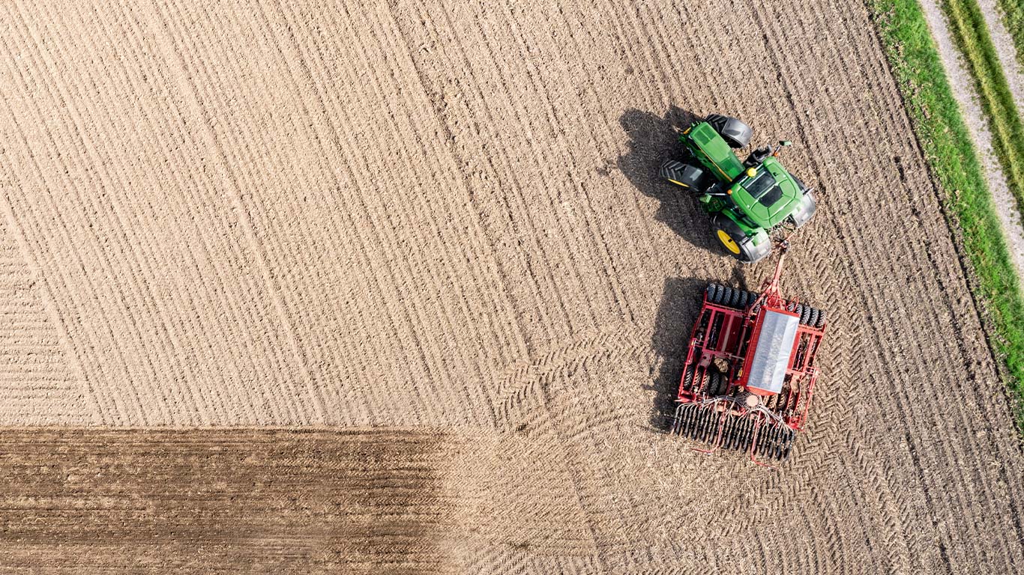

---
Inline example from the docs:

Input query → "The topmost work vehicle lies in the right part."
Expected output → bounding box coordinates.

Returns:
[658,114,817,267]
